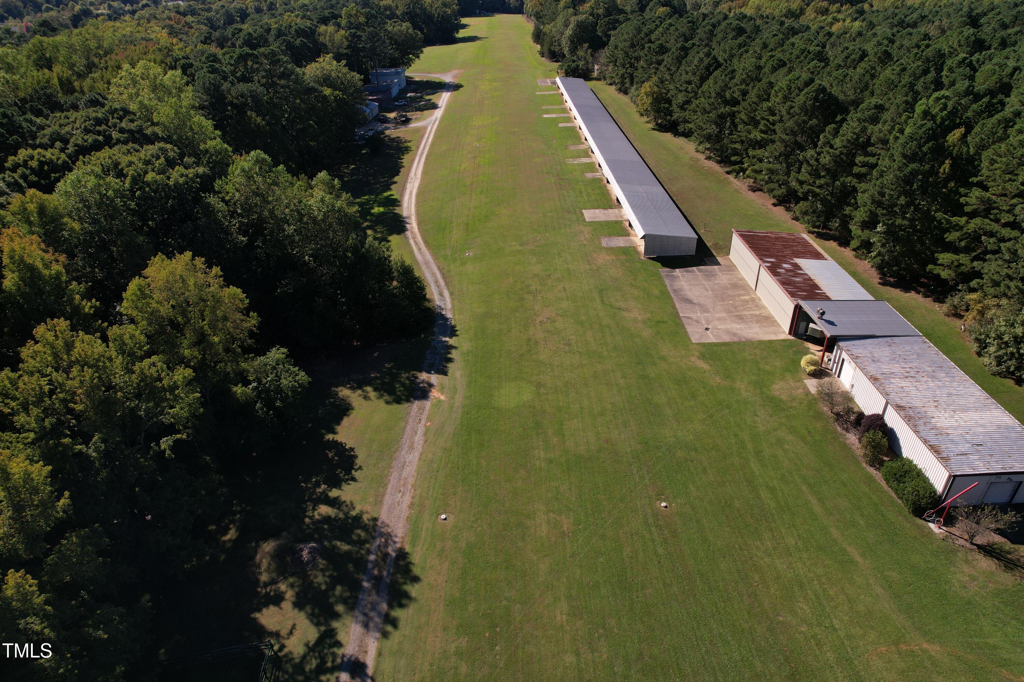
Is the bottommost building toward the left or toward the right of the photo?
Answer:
right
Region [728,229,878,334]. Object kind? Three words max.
hangar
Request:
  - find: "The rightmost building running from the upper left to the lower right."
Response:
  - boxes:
[830,336,1024,505]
